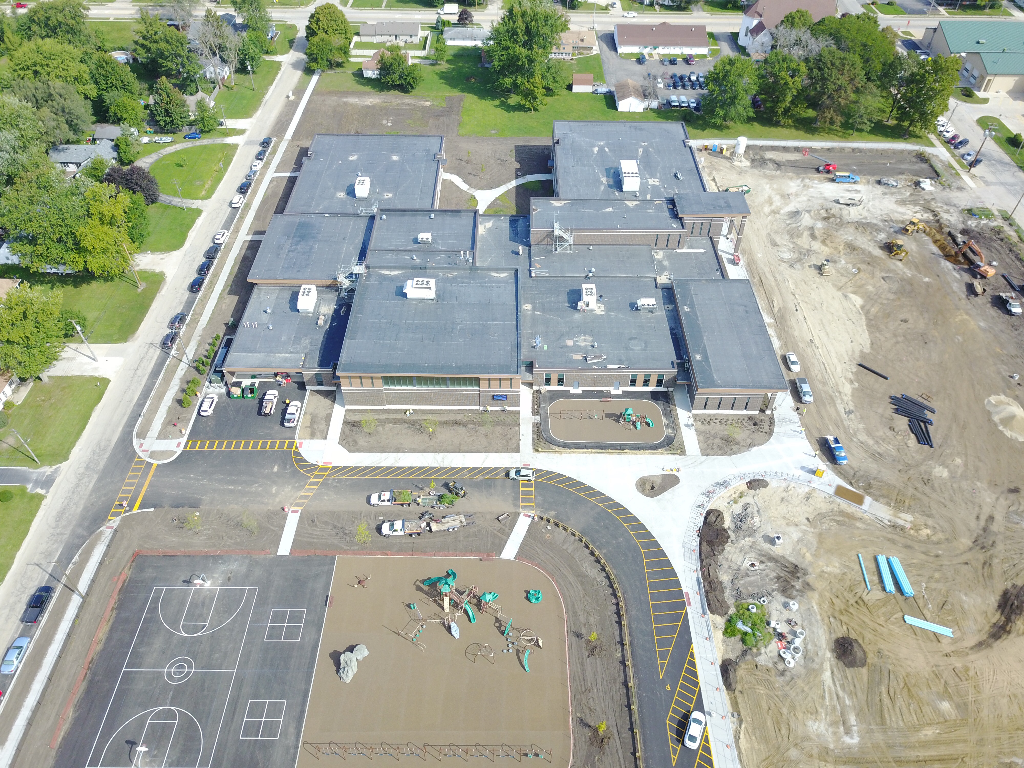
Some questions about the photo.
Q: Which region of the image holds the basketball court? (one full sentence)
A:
The basketball court sits in the bottom left section of the image.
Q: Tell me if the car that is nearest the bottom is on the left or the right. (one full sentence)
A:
The car that is nearest the bottom is on the right side of the image.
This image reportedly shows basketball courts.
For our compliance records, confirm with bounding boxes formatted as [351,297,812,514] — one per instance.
[51,555,336,768]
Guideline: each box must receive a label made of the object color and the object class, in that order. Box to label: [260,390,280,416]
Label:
white vehicle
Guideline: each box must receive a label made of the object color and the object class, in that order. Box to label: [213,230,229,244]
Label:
white car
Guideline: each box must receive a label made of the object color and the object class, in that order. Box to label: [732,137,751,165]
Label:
white silo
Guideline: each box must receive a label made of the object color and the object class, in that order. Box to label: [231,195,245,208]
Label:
white vehicle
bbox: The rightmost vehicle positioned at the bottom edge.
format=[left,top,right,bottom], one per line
[683,709,706,753]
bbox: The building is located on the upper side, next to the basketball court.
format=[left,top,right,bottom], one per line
[222,120,791,414]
